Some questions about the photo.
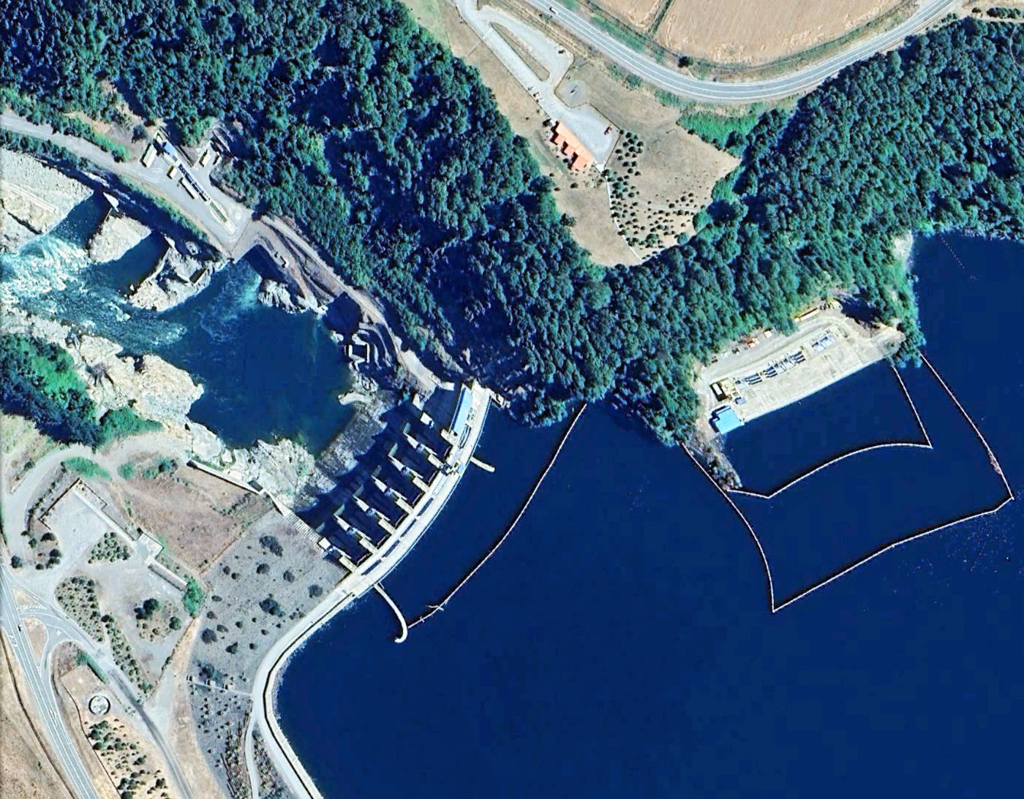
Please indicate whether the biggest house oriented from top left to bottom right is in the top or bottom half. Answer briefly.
top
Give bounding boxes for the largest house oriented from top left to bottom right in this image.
[550,119,593,172]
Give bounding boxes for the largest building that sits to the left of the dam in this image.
[149,561,187,590]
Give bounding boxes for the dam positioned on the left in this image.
[310,380,506,643]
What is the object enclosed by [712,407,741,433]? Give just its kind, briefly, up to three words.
building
